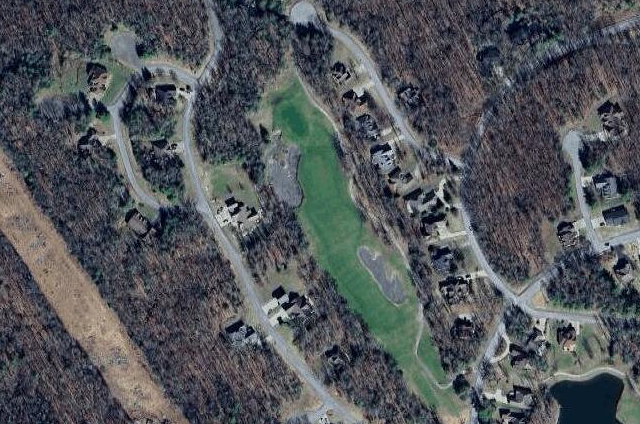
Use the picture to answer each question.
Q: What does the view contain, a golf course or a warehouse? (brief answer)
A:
golf course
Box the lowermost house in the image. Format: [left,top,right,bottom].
[496,408,530,424]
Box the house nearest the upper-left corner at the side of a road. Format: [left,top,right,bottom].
[81,61,113,94]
